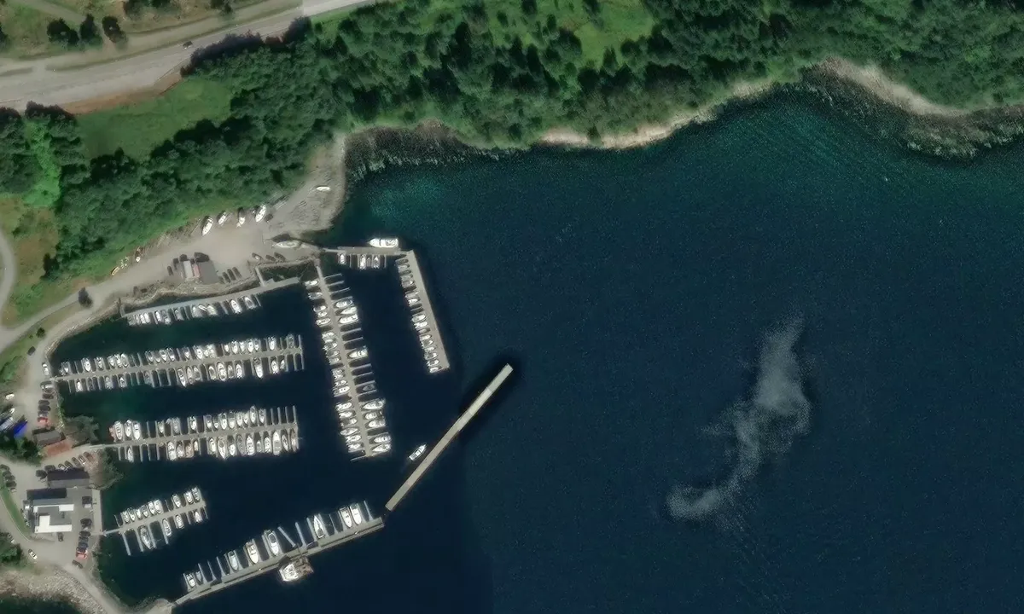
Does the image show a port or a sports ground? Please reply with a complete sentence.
This image shows a port.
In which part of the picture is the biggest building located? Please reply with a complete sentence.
The biggest building is in the bottom left part of the image.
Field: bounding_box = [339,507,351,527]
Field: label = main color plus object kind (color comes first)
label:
white boat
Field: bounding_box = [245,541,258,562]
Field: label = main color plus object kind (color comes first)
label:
white boat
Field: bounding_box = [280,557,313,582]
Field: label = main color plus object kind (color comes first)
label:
white ship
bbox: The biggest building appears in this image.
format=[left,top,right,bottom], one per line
[32,498,74,534]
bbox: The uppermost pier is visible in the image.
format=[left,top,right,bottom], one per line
[316,247,409,267]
